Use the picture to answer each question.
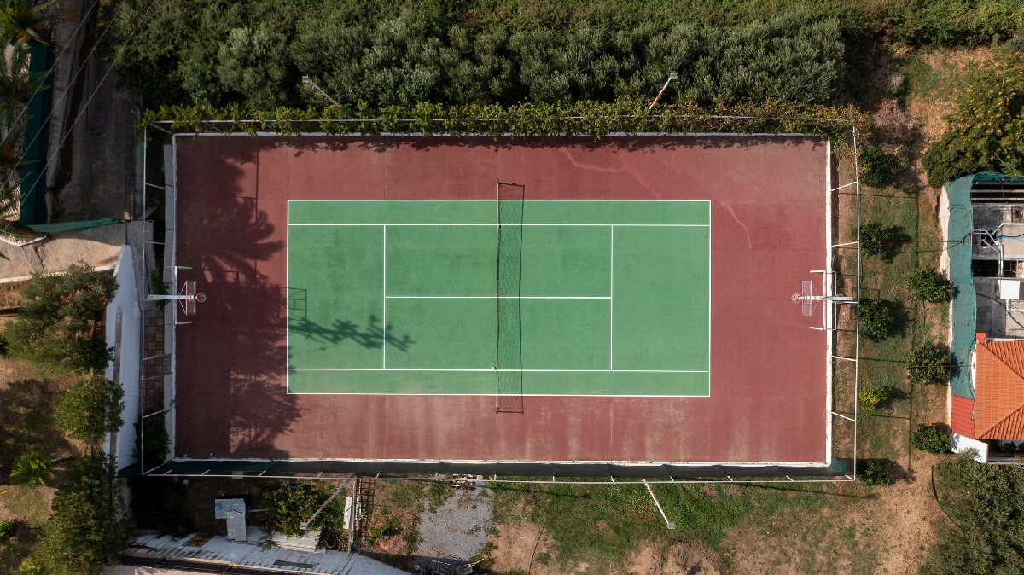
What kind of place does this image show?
sports ground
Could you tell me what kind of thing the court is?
tennis court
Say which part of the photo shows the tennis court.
center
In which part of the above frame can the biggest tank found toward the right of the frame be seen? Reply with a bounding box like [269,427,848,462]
[994,280,1023,300]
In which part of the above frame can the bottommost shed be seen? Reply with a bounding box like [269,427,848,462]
[117,528,420,575]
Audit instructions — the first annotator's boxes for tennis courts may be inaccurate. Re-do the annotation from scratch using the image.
[175,135,827,462]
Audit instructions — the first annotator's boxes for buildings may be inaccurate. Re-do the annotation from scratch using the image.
[944,177,1024,464]
[117,528,420,575]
